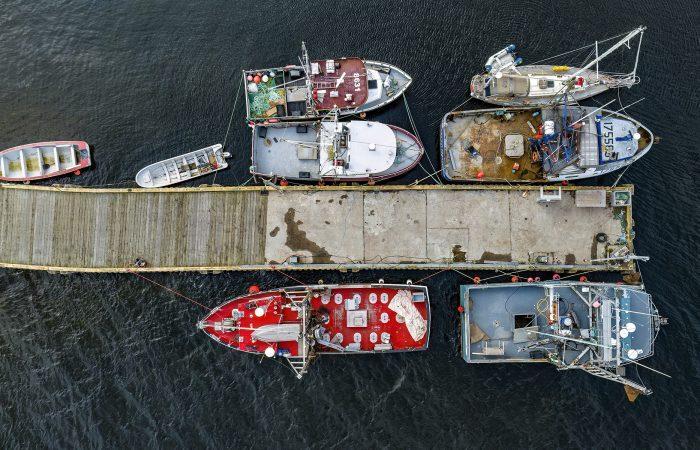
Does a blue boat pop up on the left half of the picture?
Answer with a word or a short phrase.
No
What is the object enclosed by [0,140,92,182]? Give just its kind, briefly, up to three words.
boat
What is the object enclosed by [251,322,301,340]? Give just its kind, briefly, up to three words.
boat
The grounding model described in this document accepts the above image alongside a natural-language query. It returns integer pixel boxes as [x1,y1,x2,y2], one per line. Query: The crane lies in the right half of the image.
[592,245,651,264]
